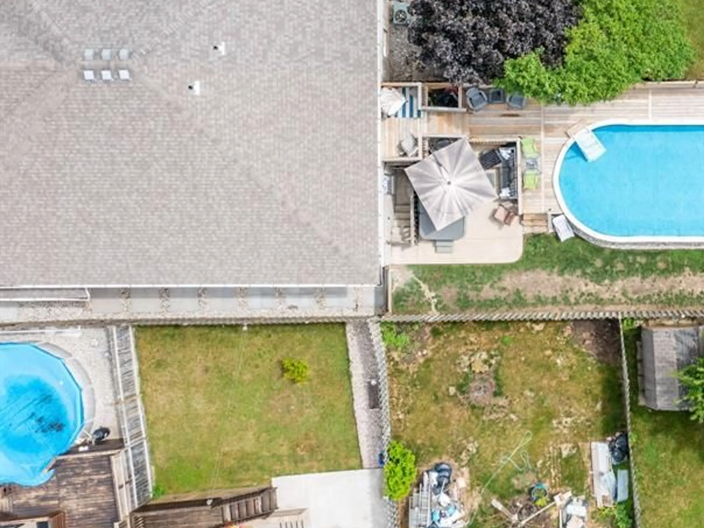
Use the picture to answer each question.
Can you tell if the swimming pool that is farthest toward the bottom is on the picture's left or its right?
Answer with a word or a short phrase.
left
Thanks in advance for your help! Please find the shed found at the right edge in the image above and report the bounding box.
[633,324,704,410]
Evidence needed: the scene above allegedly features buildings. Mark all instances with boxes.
[0,0,388,302]
[633,324,704,410]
